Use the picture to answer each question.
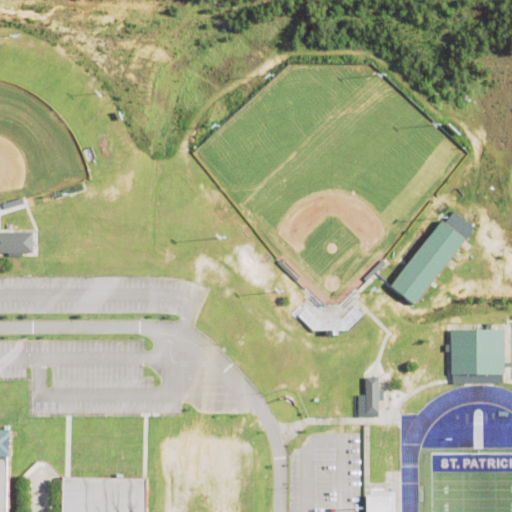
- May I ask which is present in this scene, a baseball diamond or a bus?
baseball diamond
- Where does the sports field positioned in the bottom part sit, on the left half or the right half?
right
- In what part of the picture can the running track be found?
bottom right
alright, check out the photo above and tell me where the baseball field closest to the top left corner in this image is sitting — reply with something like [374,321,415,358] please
[0,82,86,204]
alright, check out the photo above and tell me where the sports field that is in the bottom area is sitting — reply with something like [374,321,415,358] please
[420,448,512,512]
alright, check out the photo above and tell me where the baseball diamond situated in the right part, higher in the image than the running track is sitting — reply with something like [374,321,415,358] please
[197,66,466,304]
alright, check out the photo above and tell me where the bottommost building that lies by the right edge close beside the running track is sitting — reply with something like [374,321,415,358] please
[451,330,504,384]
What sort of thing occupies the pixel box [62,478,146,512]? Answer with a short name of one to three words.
building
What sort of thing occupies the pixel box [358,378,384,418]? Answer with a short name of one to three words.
building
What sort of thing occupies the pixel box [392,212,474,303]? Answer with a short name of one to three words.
barn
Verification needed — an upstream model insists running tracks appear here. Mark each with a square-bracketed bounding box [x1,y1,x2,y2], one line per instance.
[402,386,512,512]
